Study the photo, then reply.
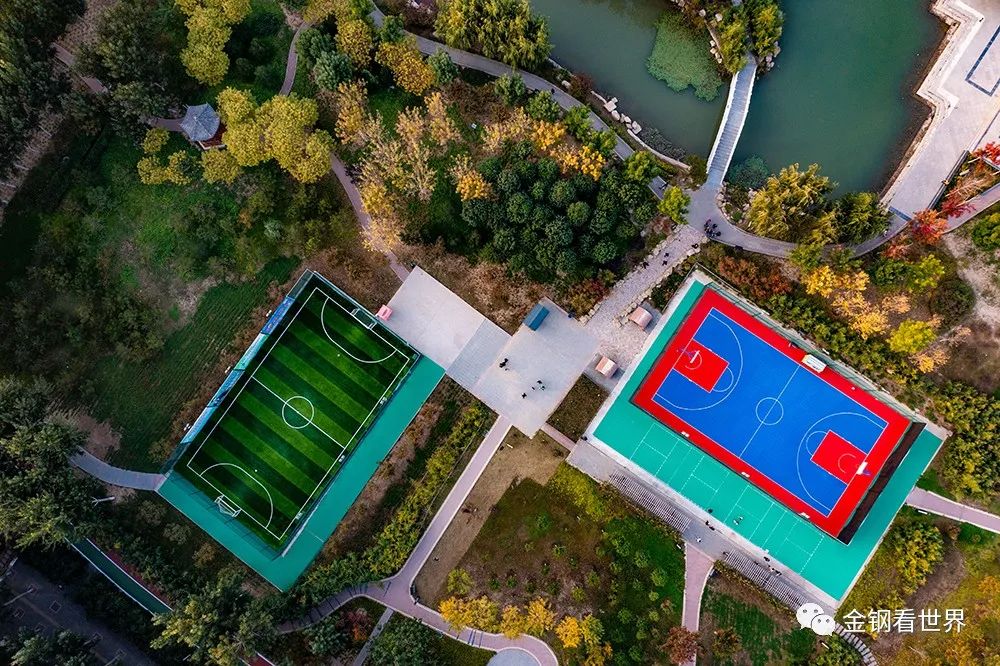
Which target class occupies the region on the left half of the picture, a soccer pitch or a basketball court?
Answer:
soccer pitch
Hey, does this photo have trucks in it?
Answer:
No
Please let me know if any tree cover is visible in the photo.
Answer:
Yes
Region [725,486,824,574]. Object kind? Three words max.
sports court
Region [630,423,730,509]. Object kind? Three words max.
sports court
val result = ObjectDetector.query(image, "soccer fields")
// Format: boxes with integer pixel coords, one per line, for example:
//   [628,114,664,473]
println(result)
[155,273,445,593]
